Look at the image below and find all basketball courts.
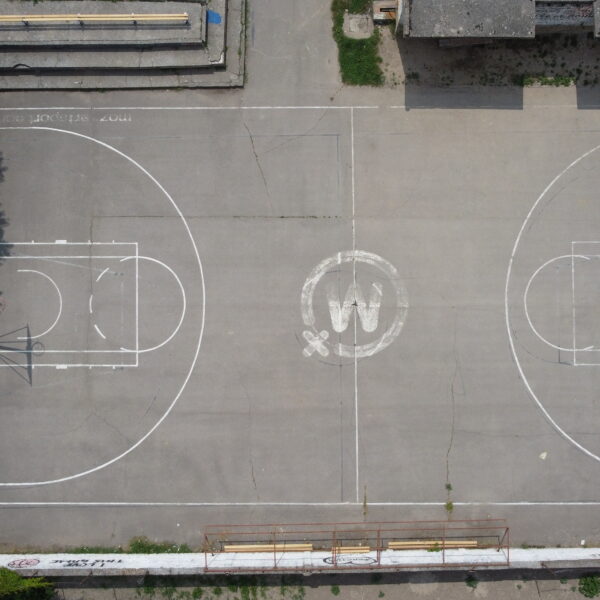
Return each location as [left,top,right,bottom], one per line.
[0,107,600,514]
